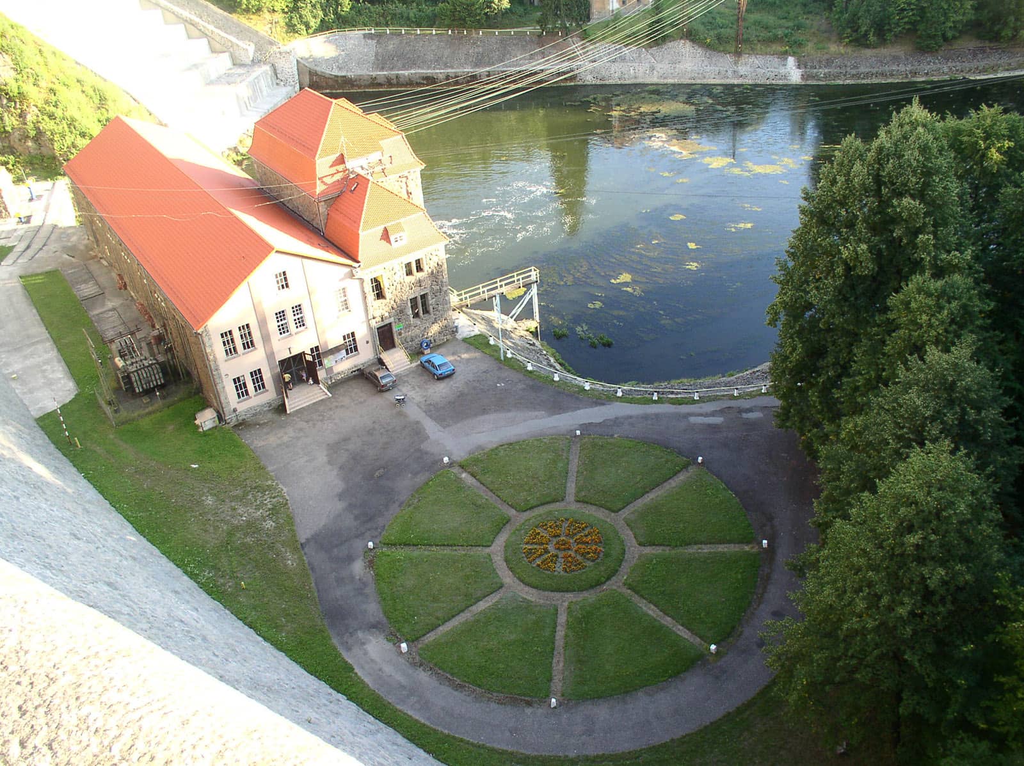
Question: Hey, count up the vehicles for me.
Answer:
two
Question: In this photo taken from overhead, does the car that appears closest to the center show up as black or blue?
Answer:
blue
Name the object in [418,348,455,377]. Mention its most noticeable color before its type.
blue car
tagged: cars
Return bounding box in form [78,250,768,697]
[418,348,455,377]
[360,362,397,390]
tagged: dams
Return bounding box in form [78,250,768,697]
[0,376,450,766]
